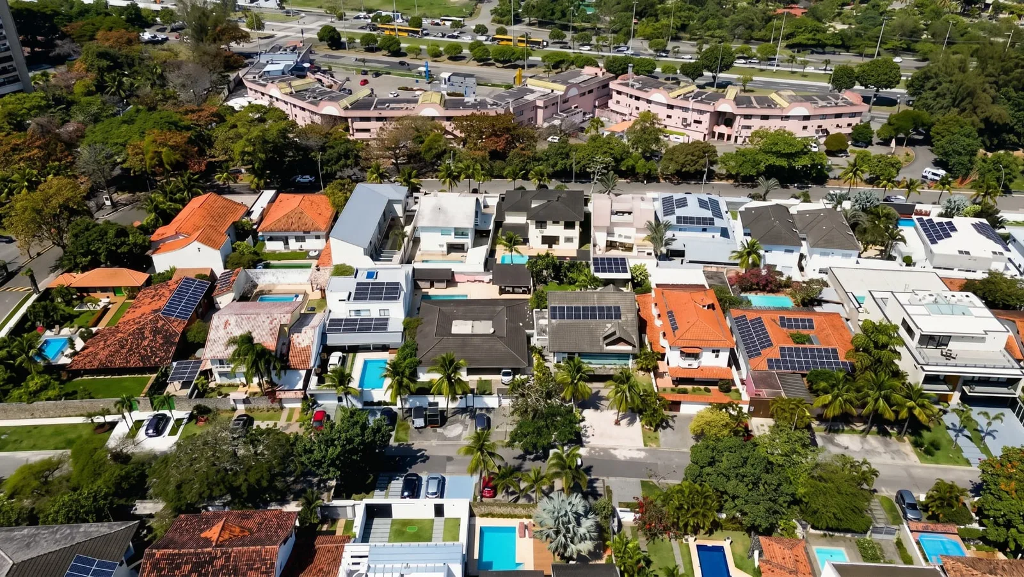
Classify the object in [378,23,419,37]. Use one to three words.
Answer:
vehicle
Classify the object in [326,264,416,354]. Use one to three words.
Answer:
house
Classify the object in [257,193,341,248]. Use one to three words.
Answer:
house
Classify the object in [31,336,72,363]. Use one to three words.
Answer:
swimming pool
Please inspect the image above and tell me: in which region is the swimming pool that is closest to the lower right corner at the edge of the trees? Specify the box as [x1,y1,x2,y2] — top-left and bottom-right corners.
[916,533,970,568]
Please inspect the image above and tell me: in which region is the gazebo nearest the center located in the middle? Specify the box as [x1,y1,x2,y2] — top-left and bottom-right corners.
[493,264,531,299]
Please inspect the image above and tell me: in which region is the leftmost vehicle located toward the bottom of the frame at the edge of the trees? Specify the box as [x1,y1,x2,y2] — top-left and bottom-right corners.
[138,406,176,437]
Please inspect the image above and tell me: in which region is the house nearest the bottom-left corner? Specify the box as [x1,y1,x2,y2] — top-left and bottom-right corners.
[0,520,141,577]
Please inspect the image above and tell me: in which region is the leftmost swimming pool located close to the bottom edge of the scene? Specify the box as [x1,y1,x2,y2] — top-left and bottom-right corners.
[475,525,518,573]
